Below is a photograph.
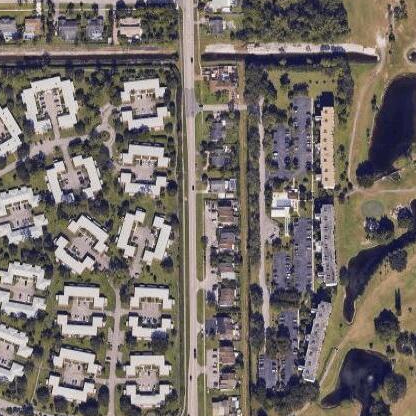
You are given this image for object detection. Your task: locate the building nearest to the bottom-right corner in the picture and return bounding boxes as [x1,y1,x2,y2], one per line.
[298,301,332,381]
